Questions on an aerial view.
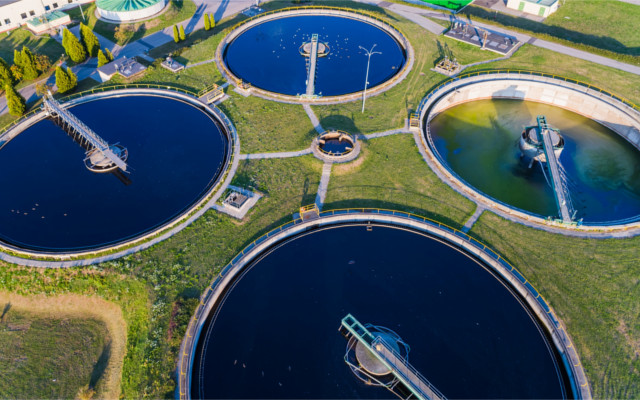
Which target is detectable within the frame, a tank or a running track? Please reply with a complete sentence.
This aerial view contains a tank.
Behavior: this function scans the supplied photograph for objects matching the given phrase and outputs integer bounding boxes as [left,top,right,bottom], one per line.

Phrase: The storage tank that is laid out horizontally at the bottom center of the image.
[181,206,588,400]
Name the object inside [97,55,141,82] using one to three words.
building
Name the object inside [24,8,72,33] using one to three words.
building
